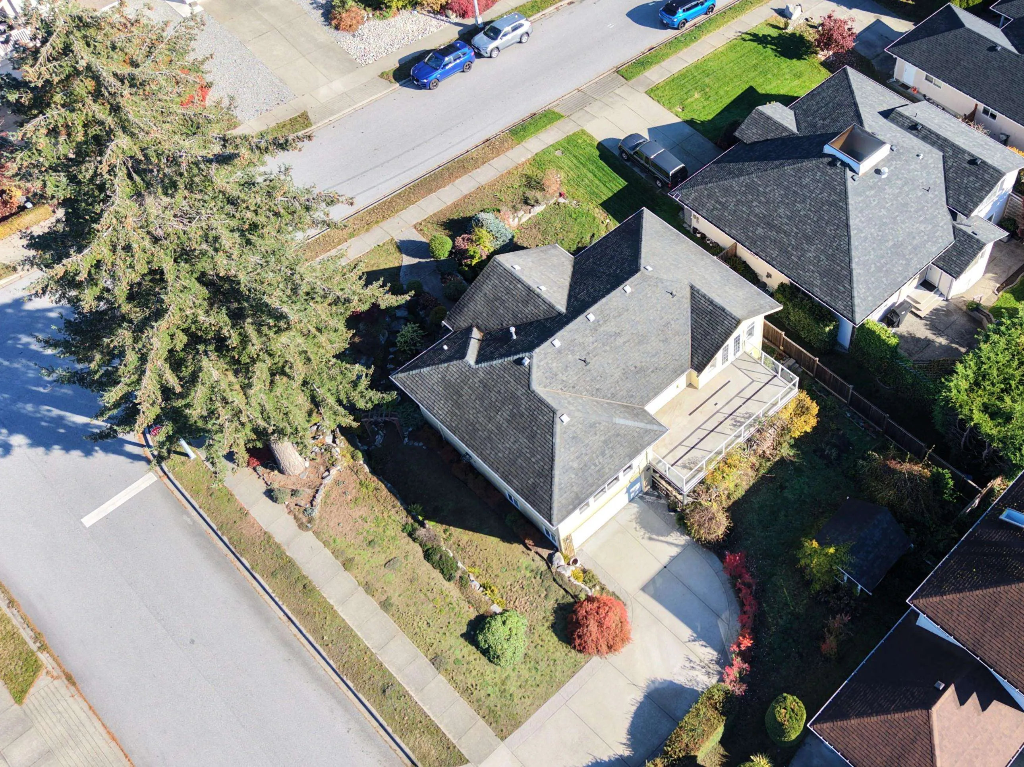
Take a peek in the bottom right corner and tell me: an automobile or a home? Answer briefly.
home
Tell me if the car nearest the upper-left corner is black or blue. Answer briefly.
blue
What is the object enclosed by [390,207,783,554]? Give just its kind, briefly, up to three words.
house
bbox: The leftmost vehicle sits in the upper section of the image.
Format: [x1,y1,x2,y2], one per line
[407,41,475,90]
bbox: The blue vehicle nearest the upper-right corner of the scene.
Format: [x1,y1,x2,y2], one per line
[658,0,717,30]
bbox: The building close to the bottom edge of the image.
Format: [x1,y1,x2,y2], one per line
[807,472,1024,767]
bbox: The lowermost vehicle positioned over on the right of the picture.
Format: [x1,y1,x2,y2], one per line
[617,133,688,187]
